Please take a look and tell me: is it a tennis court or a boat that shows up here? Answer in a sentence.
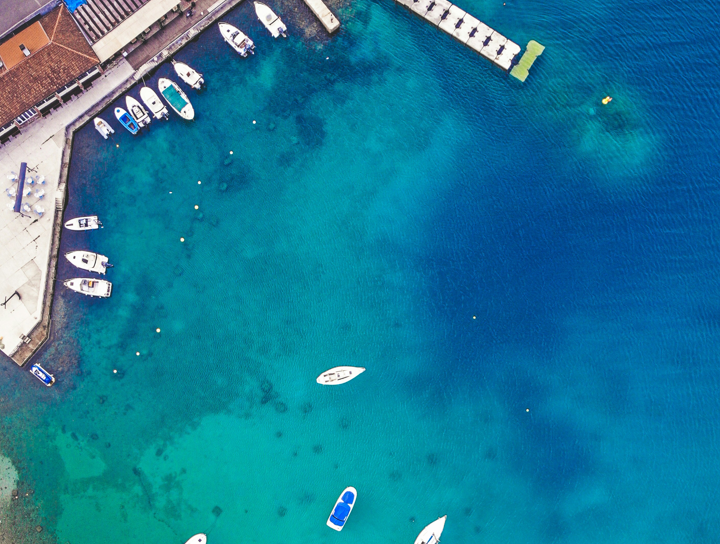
Visible in the photo is a boat.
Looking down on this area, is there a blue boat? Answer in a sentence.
Yes, the image includes a blue boat.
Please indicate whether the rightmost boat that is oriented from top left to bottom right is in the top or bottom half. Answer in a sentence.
It is in the top half that the rightmost boat that is oriented from top left to bottom right appears.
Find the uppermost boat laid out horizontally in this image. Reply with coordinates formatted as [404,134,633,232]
[63,215,106,232]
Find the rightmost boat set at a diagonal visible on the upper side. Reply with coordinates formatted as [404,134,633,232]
[253,0,288,41]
